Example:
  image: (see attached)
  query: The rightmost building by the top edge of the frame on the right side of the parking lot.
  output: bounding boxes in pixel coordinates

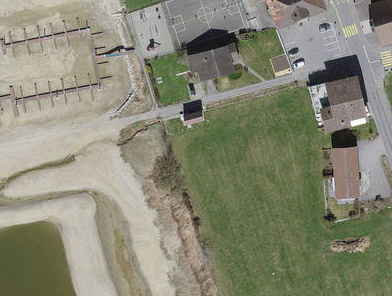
[368,0,392,48]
